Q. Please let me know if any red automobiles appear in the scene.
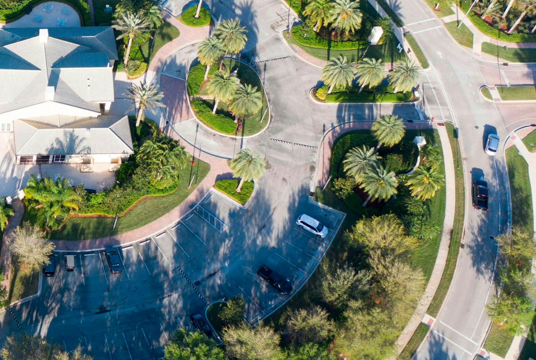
No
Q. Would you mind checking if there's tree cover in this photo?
Yes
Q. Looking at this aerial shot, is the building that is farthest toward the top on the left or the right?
left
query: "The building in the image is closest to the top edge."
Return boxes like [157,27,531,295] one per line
[0,26,134,169]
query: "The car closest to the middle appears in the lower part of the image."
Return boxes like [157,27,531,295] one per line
[295,213,328,238]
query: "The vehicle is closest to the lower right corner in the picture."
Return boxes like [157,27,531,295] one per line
[473,181,489,211]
